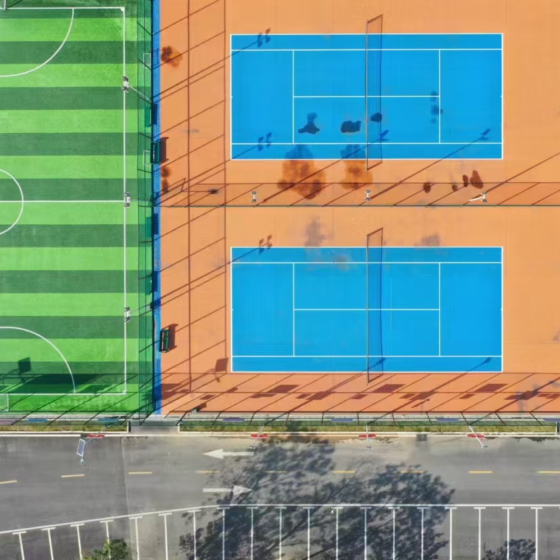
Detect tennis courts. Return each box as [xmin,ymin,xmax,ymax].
[230,33,503,160]
[230,247,503,373]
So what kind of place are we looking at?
sports ground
